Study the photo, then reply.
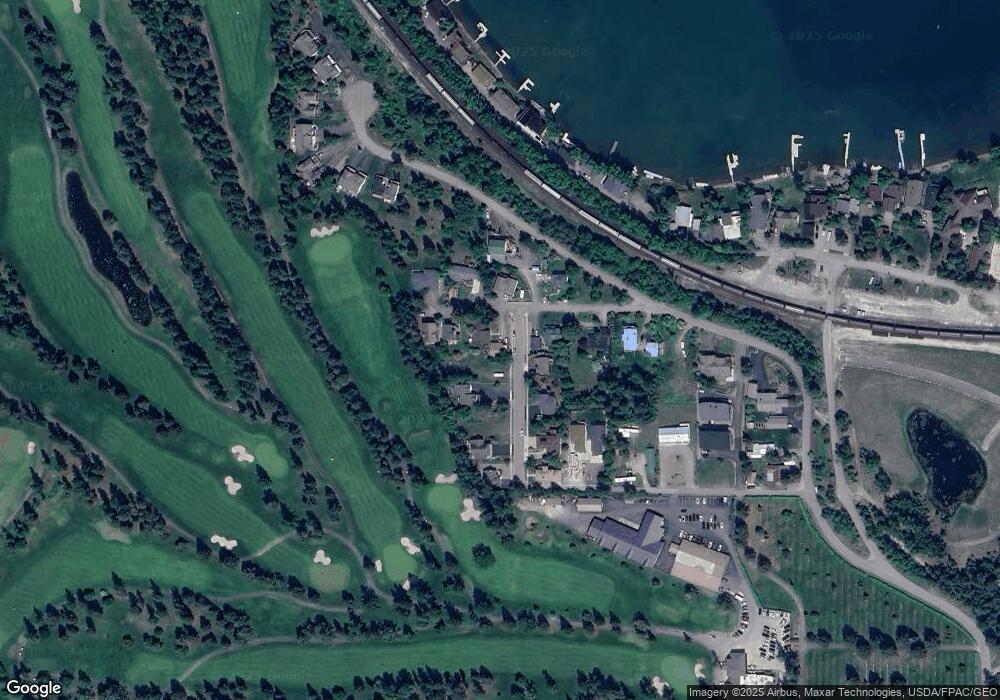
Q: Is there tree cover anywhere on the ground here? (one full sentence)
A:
Yes, tree cover can be seen from above here.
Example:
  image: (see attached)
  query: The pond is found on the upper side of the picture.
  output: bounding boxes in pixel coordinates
[66,171,152,325]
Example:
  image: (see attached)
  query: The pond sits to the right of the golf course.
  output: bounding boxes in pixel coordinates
[907,407,987,515]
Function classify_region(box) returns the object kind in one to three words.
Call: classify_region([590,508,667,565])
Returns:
building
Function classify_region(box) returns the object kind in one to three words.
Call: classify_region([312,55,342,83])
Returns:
house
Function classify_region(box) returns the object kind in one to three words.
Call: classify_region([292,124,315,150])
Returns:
house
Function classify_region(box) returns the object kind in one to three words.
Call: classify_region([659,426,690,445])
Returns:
barn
